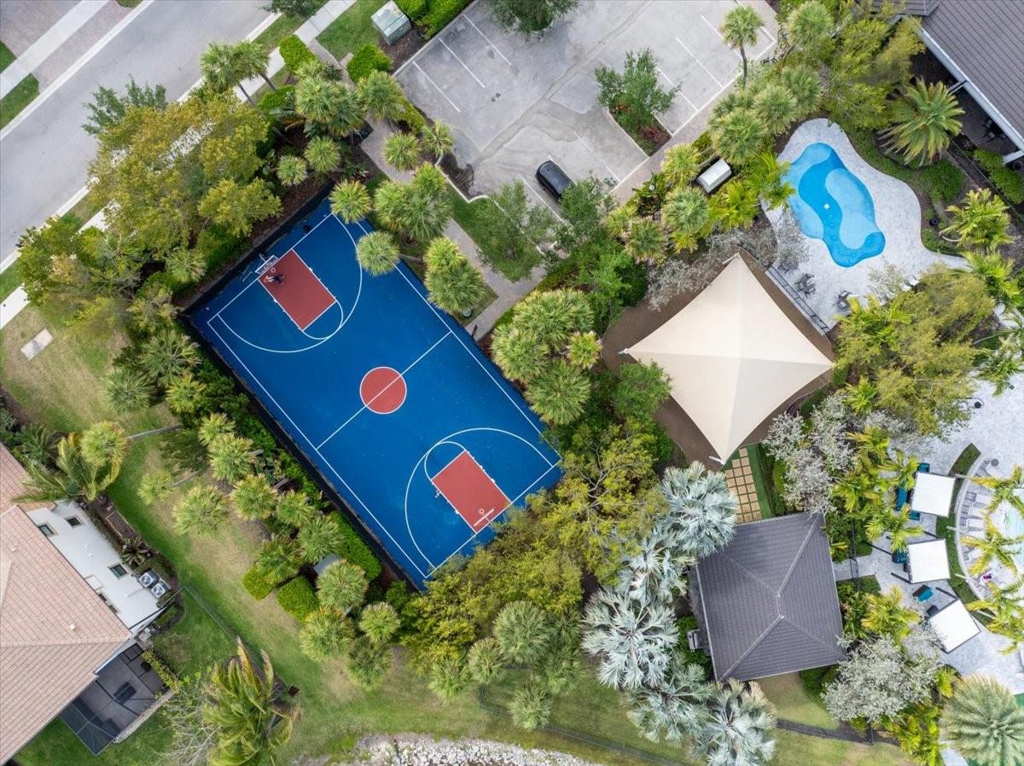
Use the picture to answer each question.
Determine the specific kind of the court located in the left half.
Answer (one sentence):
What you see as the court located in the left half is a basketball court.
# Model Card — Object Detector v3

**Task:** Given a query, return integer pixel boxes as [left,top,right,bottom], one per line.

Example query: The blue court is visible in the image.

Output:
[183,181,584,602]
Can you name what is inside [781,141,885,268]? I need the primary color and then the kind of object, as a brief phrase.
blue swimming pool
